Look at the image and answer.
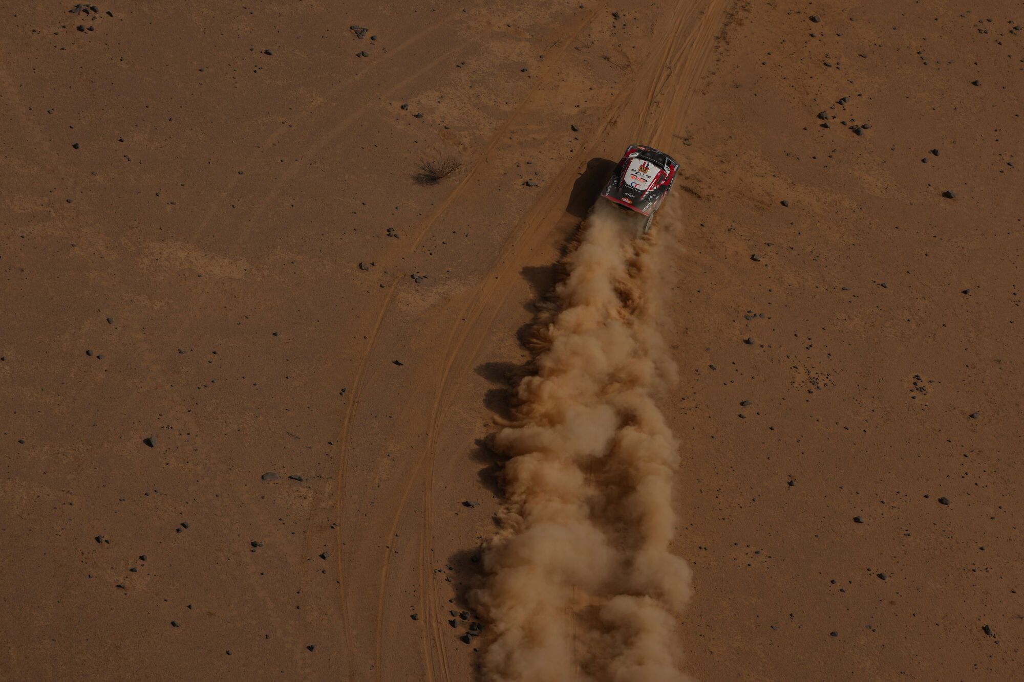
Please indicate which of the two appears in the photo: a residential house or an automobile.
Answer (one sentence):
Looking from above, you can make out an automobile.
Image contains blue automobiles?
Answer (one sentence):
No, the scene contains no blue automobile.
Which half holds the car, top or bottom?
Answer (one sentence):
The car is in the top half of the image.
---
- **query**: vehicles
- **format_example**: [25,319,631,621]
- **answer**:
[596,145,680,235]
